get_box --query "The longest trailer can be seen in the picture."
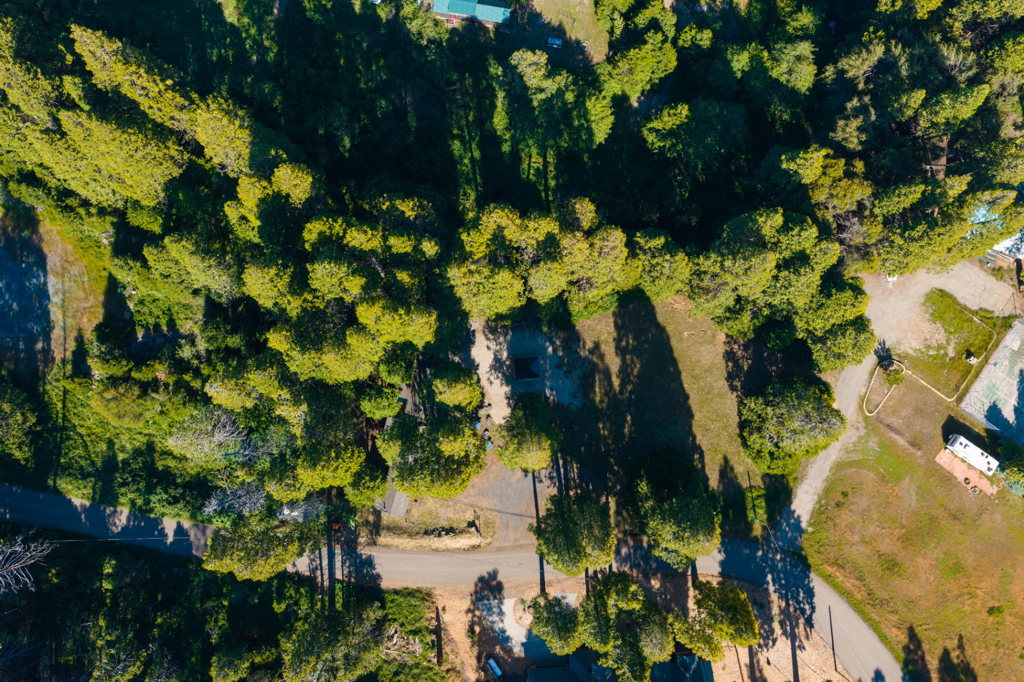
[937,431,998,475]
